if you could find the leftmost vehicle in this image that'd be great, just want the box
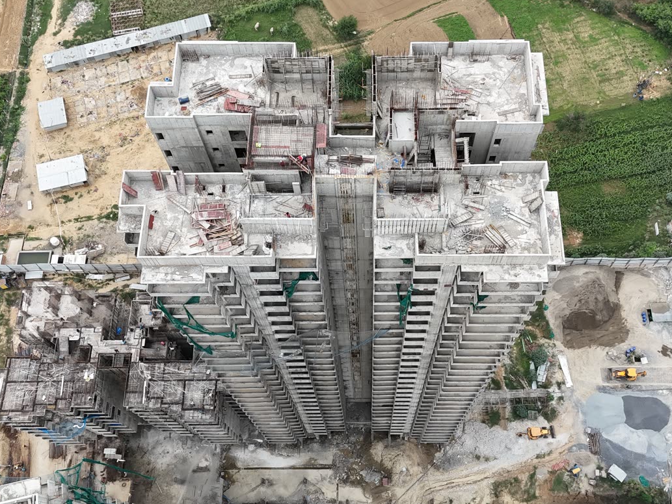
[515,425,557,439]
